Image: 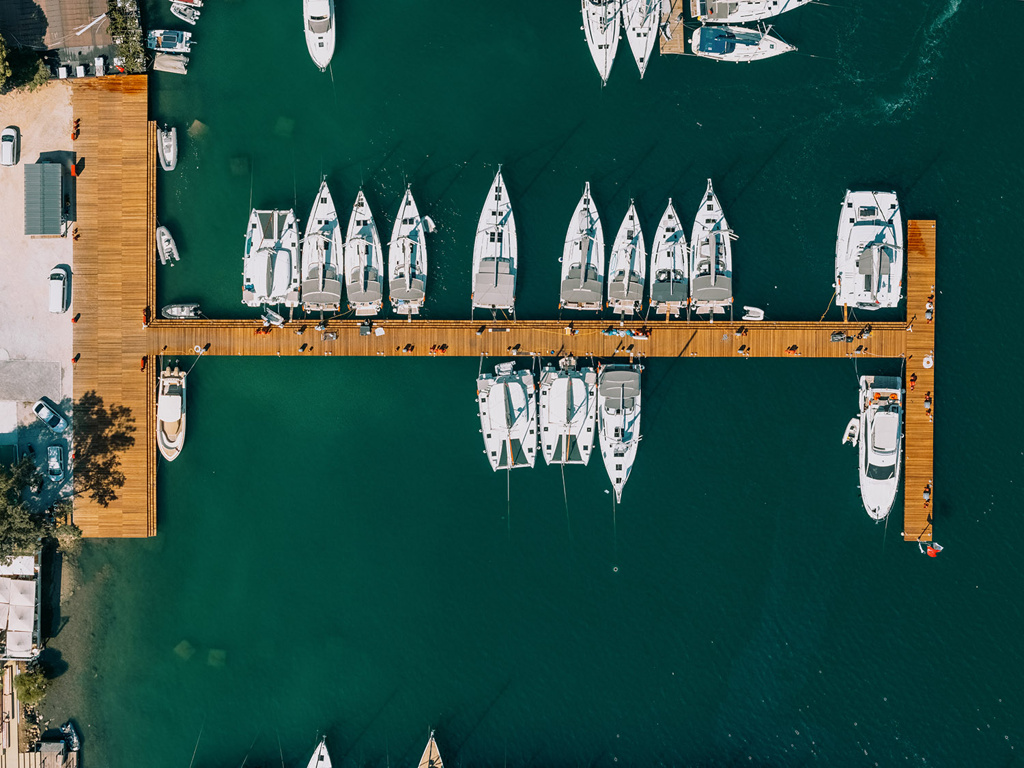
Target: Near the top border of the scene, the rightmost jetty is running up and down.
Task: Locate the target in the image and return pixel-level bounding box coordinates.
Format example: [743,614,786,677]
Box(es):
[660,0,683,53]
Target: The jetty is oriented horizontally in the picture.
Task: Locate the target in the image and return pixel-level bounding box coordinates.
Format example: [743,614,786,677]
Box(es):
[148,320,905,358]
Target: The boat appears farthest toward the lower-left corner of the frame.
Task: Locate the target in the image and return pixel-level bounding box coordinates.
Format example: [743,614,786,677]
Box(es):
[60,719,81,750]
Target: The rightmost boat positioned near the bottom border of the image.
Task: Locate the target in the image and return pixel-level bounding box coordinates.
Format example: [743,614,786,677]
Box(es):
[420,728,444,768]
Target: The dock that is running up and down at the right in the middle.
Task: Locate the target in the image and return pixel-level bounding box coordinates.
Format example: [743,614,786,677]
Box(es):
[904,220,937,542]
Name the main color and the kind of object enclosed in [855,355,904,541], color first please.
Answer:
white boat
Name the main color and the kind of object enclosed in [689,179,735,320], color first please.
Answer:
white boat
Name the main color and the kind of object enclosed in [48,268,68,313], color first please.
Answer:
white vehicle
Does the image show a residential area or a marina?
marina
